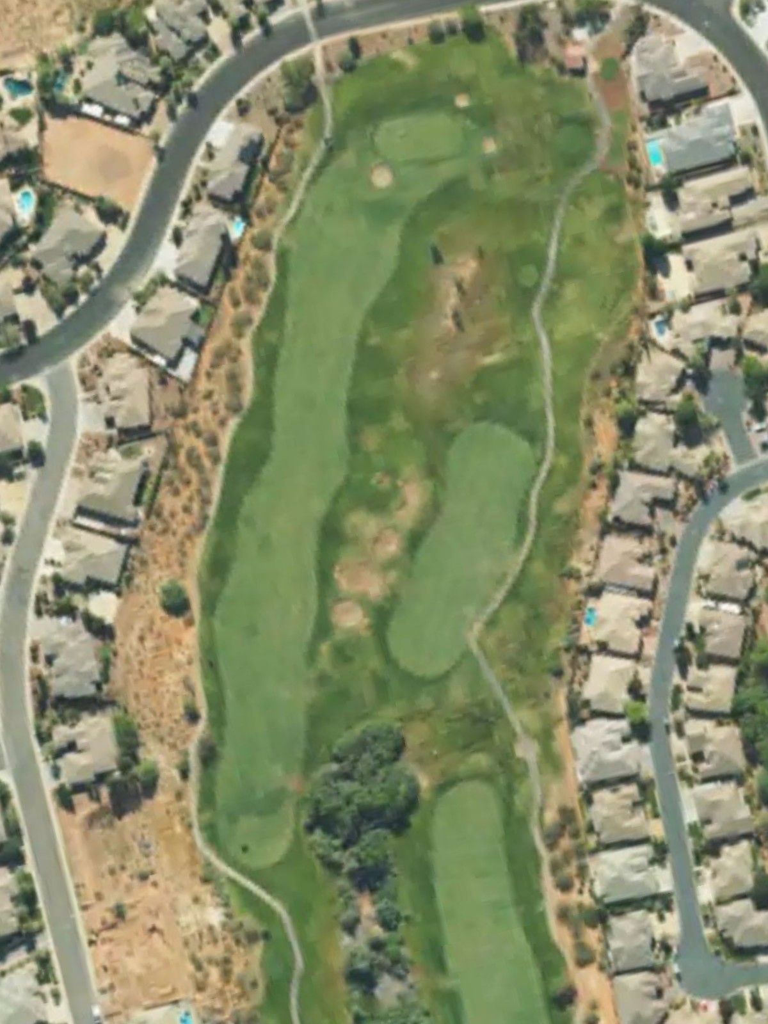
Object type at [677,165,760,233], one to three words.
house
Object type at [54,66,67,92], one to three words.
swimming pool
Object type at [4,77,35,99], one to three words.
swimming pool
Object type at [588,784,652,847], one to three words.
house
